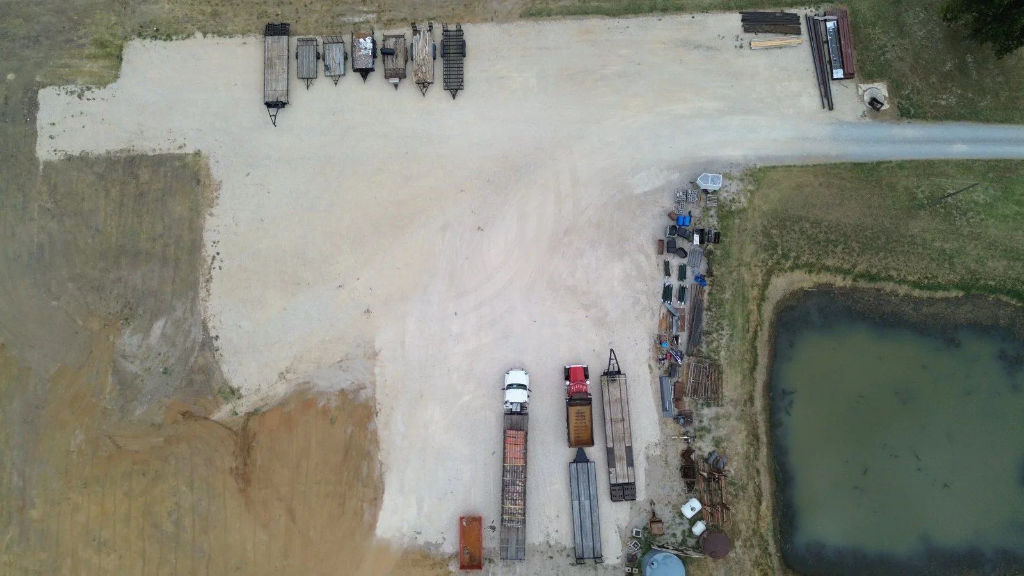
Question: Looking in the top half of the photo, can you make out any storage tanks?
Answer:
No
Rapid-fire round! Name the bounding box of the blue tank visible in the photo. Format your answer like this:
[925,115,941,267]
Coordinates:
[642,547,685,576]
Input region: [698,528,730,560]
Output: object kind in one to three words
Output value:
storage tank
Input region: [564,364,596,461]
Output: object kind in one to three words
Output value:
truck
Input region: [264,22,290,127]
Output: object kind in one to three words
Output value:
trailer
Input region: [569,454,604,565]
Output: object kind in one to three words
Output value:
trailer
